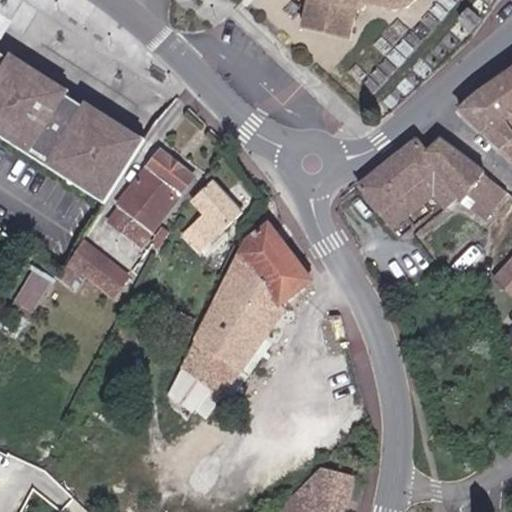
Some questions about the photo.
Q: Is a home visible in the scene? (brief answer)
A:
Yes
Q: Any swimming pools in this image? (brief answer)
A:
No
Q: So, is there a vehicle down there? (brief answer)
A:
Yes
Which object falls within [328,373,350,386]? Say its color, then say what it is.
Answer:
white vehicle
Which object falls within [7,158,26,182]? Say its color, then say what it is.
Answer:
white vehicle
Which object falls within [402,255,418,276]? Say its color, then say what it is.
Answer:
white car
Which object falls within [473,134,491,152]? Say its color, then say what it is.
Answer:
white car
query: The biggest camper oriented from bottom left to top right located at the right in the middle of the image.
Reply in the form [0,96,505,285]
[453,244,482,272]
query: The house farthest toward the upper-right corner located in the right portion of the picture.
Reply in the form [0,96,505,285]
[458,68,512,150]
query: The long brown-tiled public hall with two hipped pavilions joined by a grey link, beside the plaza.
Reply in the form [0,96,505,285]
[0,52,145,204]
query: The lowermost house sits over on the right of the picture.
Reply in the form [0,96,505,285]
[278,466,355,512]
